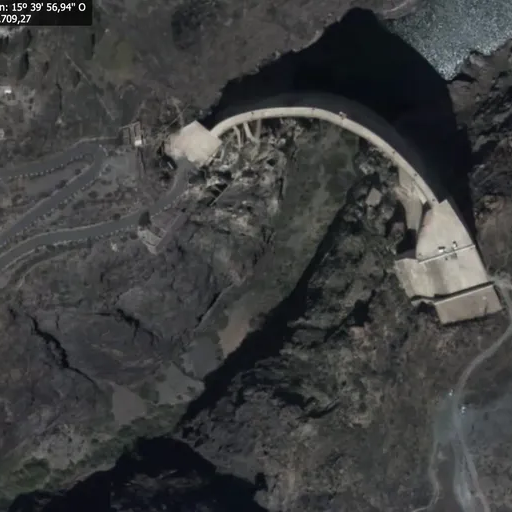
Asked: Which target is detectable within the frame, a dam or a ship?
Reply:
dam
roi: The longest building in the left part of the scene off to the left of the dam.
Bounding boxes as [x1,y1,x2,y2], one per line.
[138,209,189,252]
